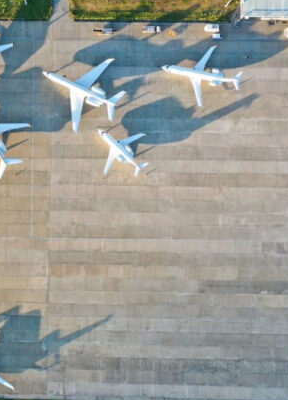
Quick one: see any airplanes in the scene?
Yes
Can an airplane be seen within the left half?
Yes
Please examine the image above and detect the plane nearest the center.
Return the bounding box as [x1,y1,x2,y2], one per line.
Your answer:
[99,130,150,177]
